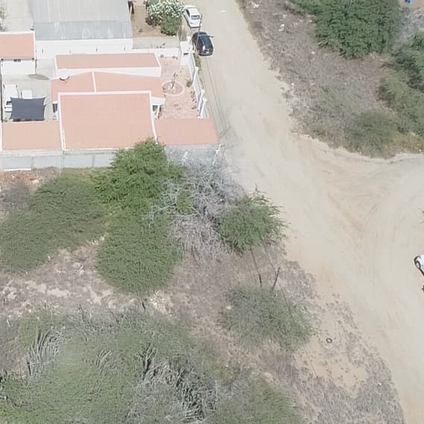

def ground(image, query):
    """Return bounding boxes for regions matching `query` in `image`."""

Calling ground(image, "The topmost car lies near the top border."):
[183,6,202,30]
